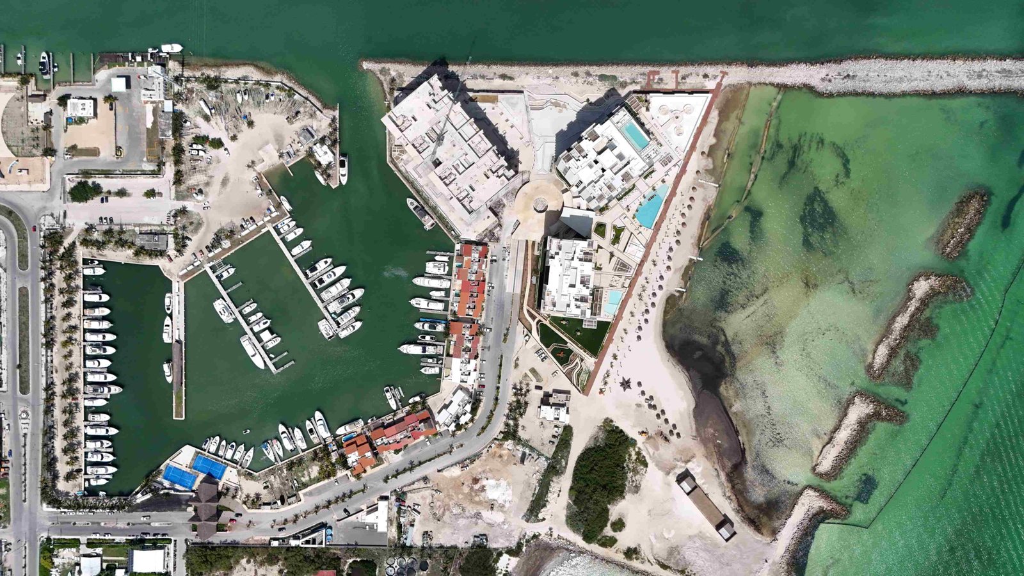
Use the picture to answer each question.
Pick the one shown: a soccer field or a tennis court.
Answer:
tennis court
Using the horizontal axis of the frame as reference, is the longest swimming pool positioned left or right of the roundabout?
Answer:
right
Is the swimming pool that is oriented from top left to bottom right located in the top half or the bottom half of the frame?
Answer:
top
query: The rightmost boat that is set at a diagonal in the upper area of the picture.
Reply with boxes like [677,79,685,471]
[406,198,436,232]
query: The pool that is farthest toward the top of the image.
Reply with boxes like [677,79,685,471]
[619,122,649,152]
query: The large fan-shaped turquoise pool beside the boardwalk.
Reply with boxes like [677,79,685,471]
[635,184,669,229]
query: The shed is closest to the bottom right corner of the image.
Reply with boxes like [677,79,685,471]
[677,472,734,540]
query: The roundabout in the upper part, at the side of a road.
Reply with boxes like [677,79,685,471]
[511,179,563,241]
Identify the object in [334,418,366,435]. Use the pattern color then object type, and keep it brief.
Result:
white boat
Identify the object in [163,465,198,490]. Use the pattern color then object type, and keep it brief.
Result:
blue tennis court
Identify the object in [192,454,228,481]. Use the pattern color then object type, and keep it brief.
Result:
blue tennis court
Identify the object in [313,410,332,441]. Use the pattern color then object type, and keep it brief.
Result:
white boat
